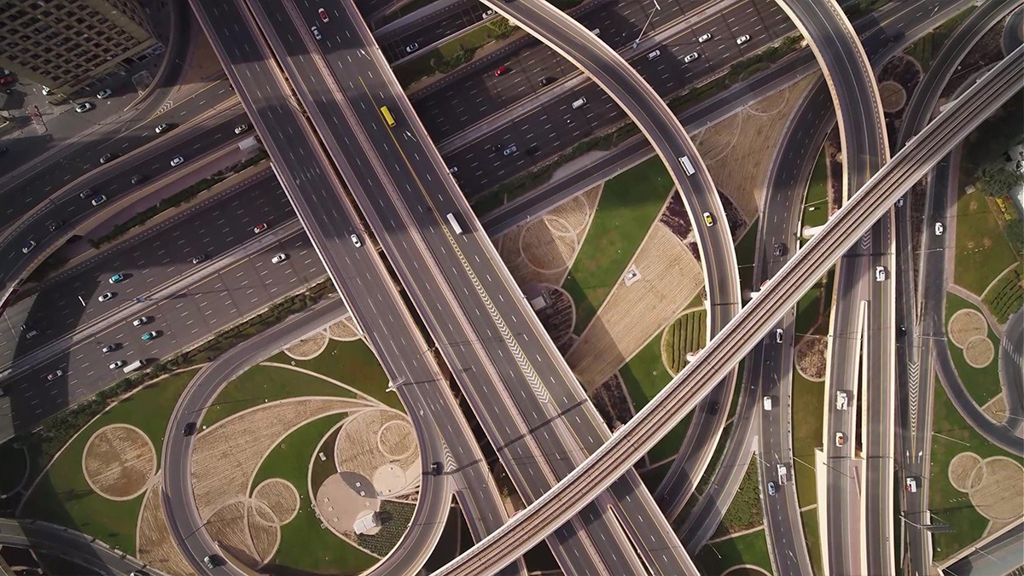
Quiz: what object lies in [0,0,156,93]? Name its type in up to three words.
building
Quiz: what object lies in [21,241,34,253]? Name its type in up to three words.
vehicle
